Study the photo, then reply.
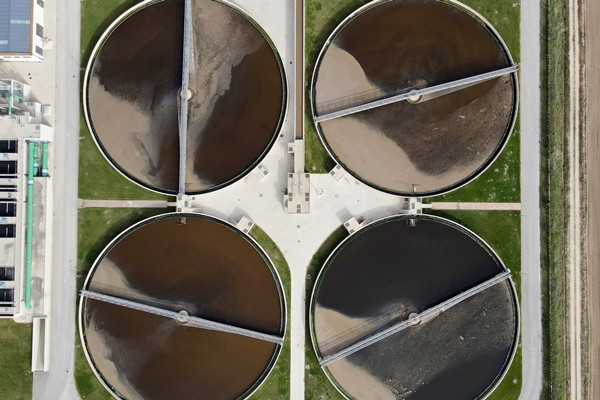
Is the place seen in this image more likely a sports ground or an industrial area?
industrial area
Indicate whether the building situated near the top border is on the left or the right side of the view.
left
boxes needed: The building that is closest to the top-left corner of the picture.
[0,0,43,61]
